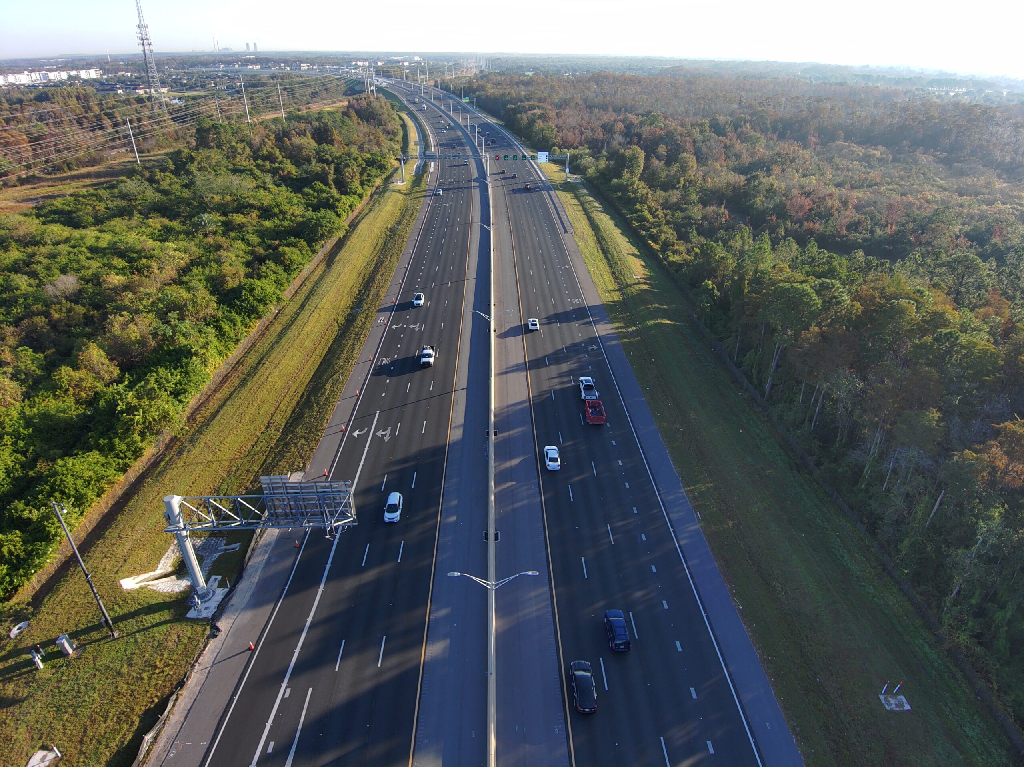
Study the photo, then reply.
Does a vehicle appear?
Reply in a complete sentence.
Yes, a vehicle appears in the view.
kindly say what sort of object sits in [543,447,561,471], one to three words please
car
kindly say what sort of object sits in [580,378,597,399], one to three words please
vehicle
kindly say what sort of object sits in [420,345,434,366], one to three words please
vehicle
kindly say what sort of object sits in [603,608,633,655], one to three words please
car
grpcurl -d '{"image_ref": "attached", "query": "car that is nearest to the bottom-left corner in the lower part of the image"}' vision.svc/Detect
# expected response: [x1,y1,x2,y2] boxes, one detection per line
[383,491,403,523]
